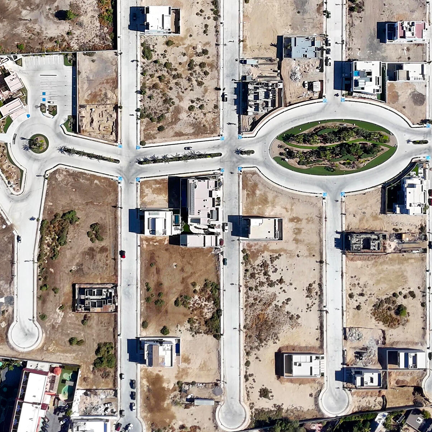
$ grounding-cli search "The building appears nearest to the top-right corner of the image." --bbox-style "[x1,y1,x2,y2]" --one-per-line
[385,22,427,44]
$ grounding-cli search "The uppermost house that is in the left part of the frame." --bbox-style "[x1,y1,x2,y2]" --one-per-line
[142,5,180,36]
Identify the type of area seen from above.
residential area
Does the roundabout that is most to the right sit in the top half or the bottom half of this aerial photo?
top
